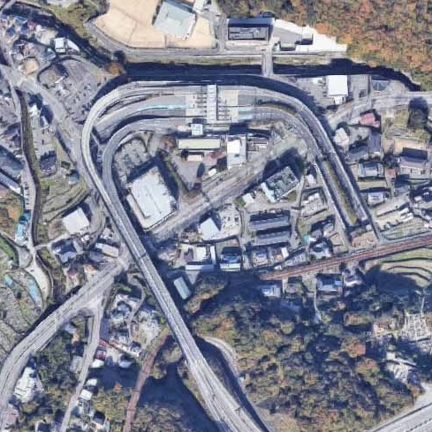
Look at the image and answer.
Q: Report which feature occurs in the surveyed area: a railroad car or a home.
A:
home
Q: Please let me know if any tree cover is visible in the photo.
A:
Yes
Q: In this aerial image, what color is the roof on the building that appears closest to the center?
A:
white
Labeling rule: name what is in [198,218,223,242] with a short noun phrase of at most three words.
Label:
building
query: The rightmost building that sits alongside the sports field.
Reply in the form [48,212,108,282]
[227,20,271,45]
